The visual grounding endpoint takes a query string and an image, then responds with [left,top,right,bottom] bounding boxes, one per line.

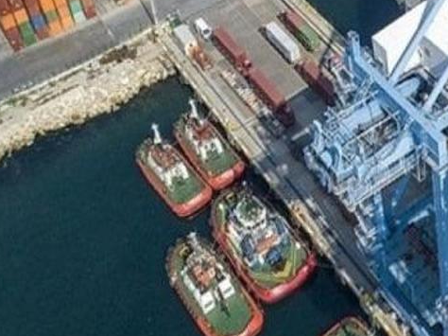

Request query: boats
[174,84,254,193]
[323,317,375,336]
[214,162,323,303]
[134,111,215,224]
[169,219,267,336]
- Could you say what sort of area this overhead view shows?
port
